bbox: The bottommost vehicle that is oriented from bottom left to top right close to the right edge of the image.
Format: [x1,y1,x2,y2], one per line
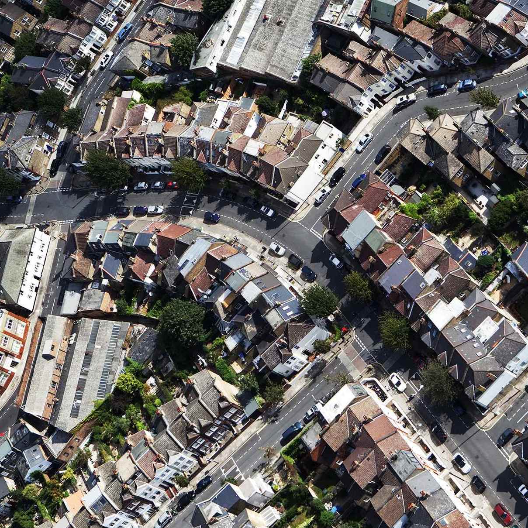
[495,427,517,450]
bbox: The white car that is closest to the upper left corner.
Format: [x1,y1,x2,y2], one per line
[99,49,114,67]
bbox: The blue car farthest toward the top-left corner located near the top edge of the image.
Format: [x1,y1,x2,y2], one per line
[116,22,134,41]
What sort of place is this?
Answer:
residential area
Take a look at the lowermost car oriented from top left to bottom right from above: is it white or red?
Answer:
red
